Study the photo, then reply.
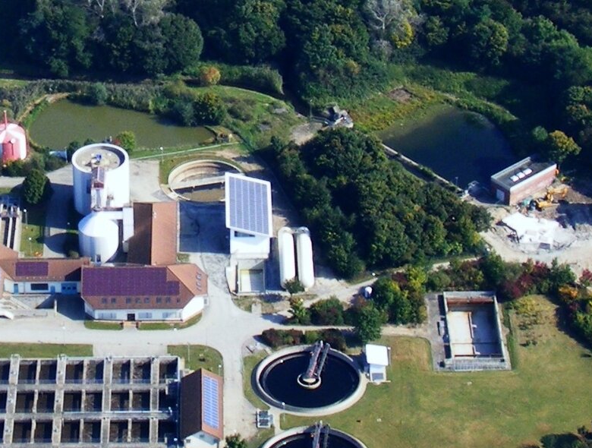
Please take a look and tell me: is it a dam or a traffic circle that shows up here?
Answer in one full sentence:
This aerial view contains a dam.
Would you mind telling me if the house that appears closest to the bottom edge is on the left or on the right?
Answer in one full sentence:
The house that appears closest to the bottom edge appears in the left half of the scene.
